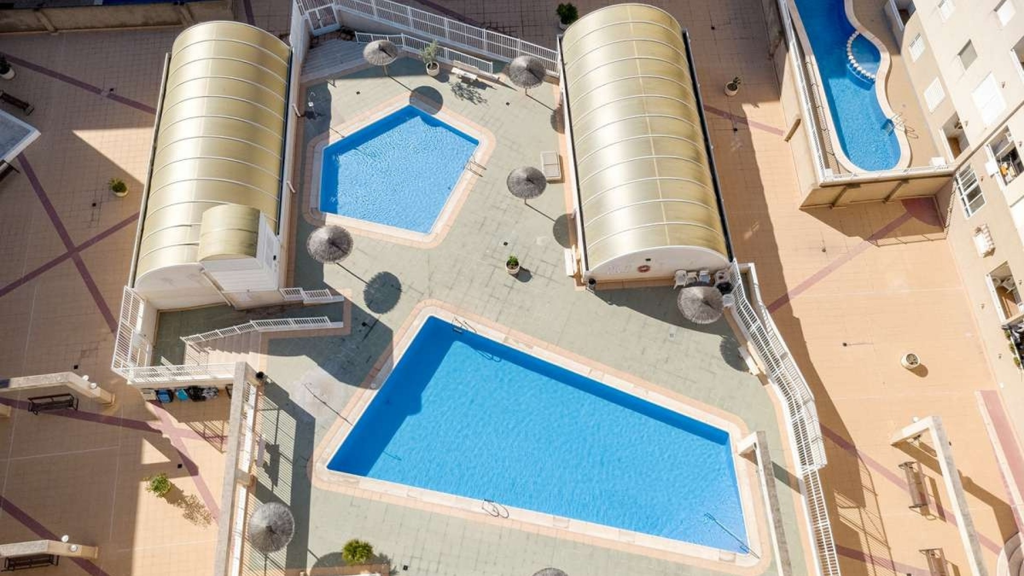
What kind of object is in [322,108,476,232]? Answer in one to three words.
swimming pool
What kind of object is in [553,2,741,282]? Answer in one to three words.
building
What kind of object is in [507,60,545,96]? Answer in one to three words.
umbrella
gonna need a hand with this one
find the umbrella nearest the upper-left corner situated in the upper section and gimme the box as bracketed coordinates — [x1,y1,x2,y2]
[364,39,401,74]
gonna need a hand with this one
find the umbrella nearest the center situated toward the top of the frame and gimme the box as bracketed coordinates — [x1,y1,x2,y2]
[508,169,548,204]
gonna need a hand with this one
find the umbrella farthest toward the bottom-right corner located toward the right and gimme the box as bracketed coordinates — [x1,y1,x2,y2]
[677,282,725,326]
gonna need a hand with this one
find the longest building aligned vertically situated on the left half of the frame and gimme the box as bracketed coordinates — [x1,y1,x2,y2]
[126,18,308,409]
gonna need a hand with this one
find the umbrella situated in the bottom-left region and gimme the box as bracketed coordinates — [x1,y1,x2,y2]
[247,501,302,559]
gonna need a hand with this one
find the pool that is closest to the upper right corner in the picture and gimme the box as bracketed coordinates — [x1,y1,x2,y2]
[796,0,898,170]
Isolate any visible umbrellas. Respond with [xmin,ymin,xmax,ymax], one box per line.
[507,60,545,96]
[247,501,302,559]
[528,565,569,576]
[311,227,359,269]
[508,169,548,204]
[677,282,725,326]
[364,39,401,74]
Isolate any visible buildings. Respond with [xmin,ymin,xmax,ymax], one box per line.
[897,0,1024,518]
[126,18,308,409]
[553,2,741,282]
